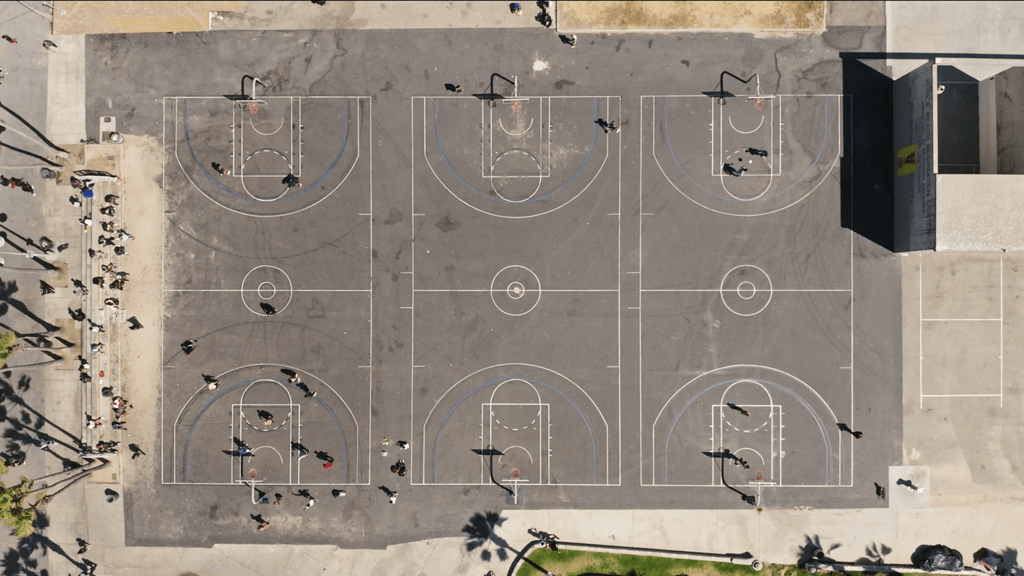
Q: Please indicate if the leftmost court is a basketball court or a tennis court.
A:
basketball court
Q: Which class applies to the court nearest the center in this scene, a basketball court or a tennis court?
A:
basketball court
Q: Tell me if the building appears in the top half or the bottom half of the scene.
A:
top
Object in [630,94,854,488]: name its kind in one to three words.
basketball court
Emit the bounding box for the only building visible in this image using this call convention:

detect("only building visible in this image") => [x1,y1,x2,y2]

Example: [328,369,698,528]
[894,57,1024,256]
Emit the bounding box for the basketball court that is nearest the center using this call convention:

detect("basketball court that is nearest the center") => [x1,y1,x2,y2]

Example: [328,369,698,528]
[400,95,623,487]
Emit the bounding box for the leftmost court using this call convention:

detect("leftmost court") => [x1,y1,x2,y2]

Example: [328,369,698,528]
[162,95,373,486]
